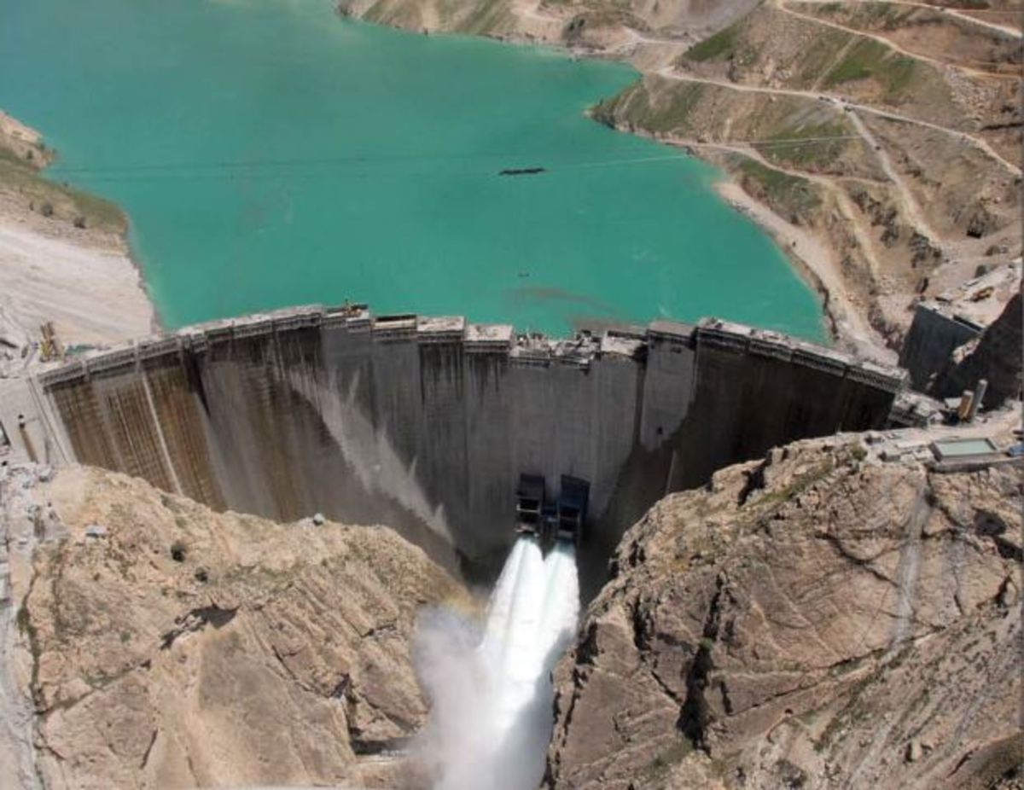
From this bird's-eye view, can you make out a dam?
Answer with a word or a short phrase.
Yes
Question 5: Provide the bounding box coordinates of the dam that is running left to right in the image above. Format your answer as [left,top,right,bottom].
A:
[35,302,910,597]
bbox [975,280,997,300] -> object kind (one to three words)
work vehicle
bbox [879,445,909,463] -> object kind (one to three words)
building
